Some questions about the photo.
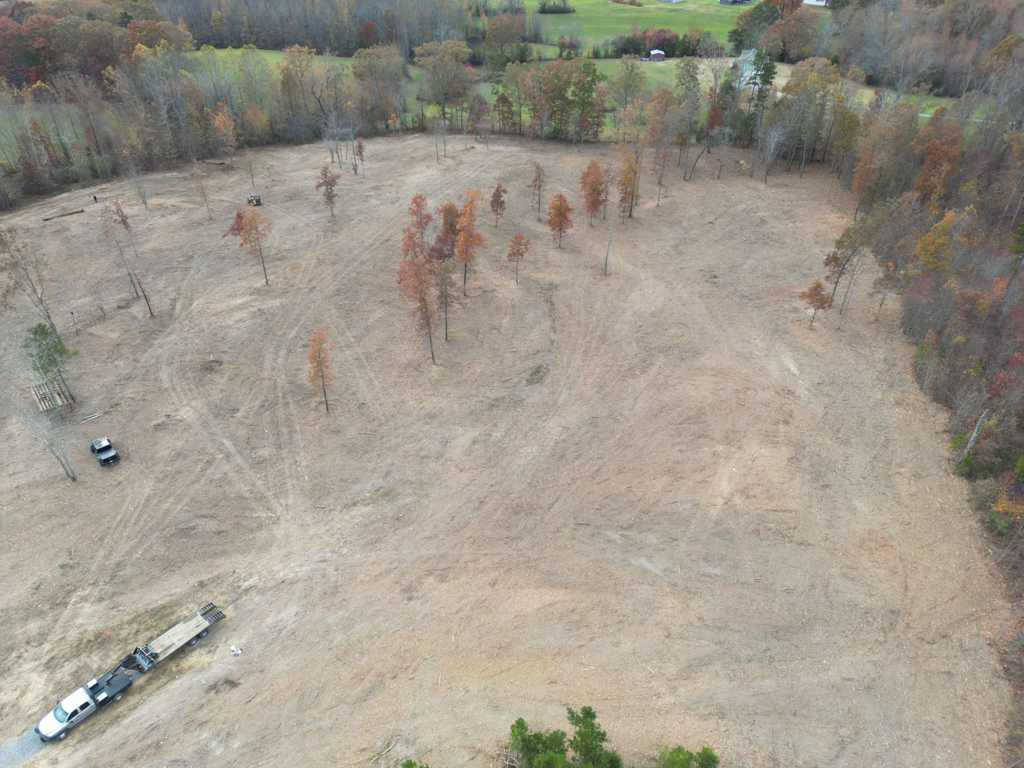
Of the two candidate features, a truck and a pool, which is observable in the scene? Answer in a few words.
truck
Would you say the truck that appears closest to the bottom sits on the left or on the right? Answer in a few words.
left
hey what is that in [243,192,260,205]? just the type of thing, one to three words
vehicle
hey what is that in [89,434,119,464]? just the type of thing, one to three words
truck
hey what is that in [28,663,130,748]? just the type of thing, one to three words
truck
